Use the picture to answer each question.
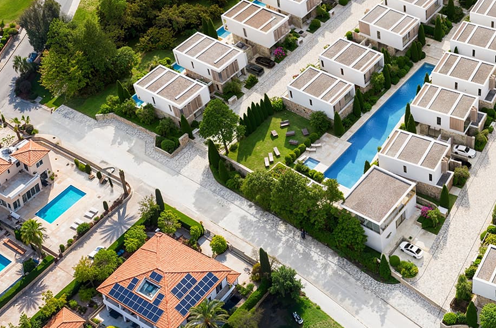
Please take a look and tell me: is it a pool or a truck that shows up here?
pool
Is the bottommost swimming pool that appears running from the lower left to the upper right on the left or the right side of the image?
left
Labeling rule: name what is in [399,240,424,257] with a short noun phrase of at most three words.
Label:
car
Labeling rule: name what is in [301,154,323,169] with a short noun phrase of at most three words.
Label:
swimming pool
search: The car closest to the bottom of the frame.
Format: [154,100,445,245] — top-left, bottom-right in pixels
[290,309,304,325]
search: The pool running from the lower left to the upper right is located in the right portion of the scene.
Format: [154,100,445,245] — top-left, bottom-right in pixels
[323,61,436,189]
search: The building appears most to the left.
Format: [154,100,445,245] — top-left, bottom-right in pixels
[0,139,58,210]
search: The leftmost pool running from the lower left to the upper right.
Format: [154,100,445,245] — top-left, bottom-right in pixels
[32,184,91,226]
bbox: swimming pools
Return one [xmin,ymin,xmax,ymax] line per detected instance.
[212,27,233,39]
[0,252,19,291]
[170,61,188,74]
[32,184,91,226]
[323,61,436,189]
[301,154,323,169]
[127,91,145,108]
